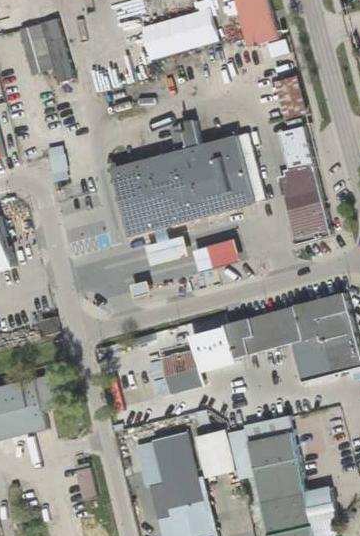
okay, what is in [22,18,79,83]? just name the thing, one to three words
barn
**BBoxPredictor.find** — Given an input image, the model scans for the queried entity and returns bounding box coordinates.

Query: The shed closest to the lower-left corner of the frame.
[78,468,100,500]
